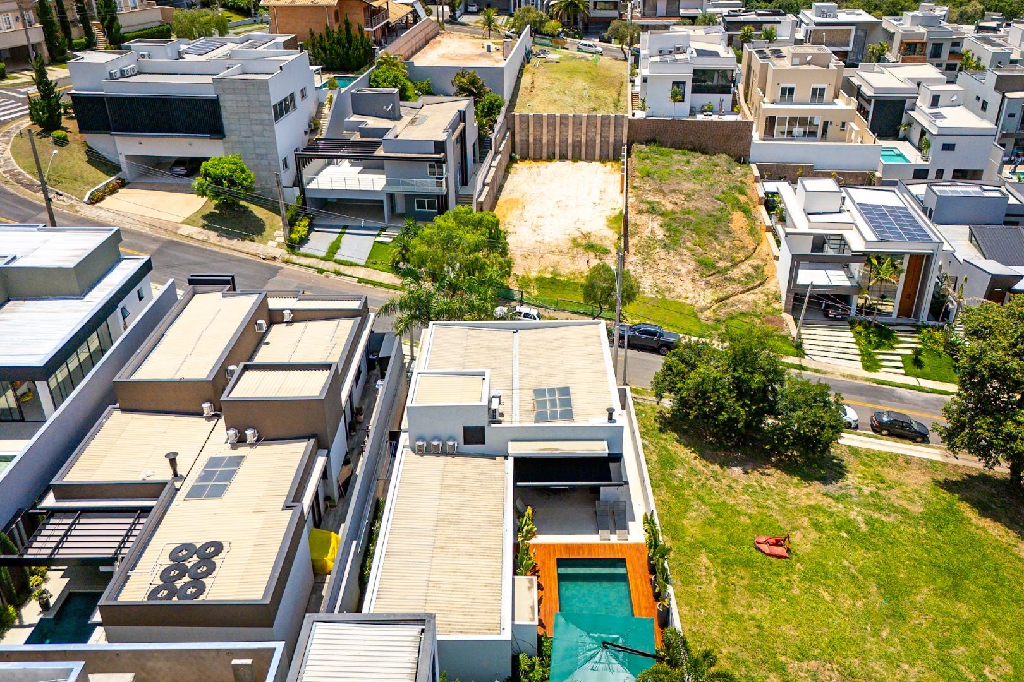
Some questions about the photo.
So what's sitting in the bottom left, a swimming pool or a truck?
swimming pool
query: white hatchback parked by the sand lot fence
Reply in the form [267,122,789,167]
[496,298,540,319]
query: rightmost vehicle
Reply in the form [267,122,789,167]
[867,410,936,444]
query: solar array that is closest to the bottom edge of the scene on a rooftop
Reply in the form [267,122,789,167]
[857,202,933,241]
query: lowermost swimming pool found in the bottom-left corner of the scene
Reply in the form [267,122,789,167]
[12,581,111,646]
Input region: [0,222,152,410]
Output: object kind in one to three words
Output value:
house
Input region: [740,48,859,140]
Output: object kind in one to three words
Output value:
house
